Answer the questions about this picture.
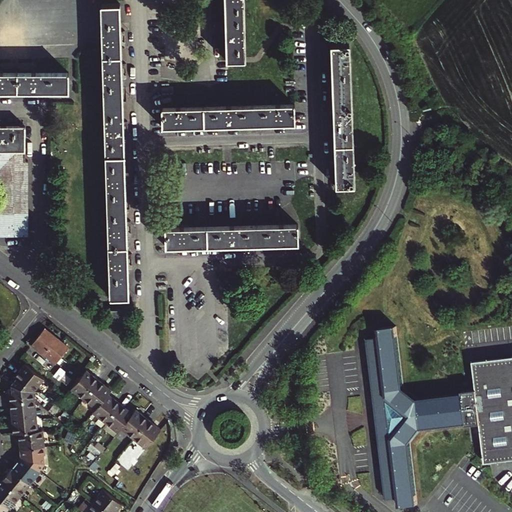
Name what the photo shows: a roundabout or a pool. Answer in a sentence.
Visible in the photo is a roundabout.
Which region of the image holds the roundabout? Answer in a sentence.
The roundabout sits in the bottom section of the image.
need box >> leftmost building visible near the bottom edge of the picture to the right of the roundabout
[364,326,463,508]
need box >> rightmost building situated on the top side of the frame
[330,46,355,192]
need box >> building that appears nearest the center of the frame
[164,224,298,253]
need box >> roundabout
[192,389,271,468]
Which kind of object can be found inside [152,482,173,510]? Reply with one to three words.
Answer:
bus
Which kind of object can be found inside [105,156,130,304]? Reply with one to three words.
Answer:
building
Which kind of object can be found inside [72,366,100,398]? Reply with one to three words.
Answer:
house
